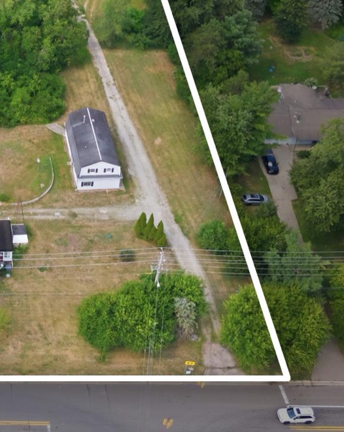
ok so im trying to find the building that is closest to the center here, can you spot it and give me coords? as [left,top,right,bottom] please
[64,105,129,190]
